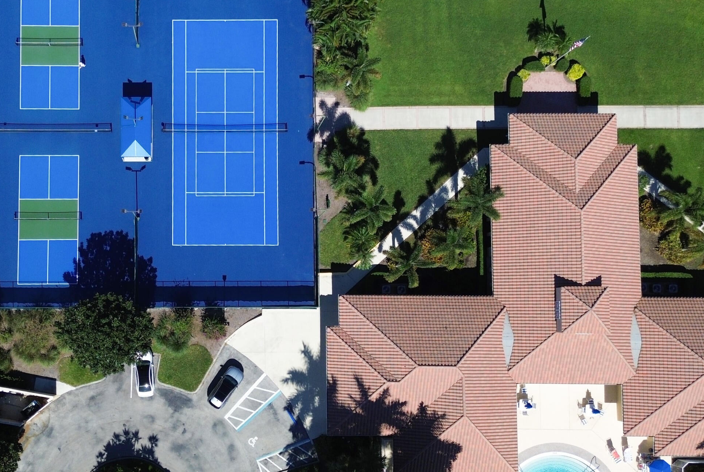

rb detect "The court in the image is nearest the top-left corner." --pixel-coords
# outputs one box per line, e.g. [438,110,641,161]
[20,0,79,109]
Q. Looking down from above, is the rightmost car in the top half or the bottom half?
bottom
